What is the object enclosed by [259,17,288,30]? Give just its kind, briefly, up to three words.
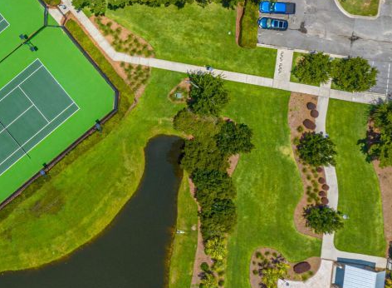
vehicle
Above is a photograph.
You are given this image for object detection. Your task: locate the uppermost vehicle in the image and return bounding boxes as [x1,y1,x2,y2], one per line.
[260,0,296,14]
